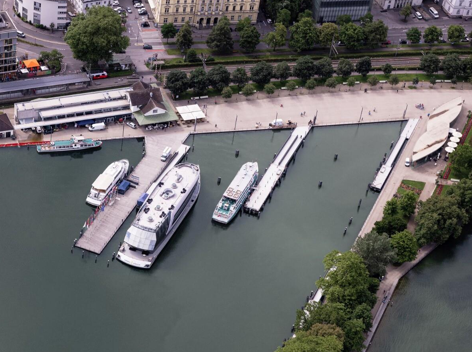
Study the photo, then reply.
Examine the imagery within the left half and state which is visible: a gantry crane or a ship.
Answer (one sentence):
The one visible within the left half is a ship.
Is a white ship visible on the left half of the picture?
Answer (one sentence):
Yes, a white ship shows up on the left half of the picture.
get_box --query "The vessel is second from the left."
[87,157,127,207]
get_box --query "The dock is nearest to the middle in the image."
[245,127,312,211]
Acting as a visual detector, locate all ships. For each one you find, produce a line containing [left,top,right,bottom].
[36,135,102,153]
[87,157,127,207]
[214,161,257,224]
[117,160,199,268]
